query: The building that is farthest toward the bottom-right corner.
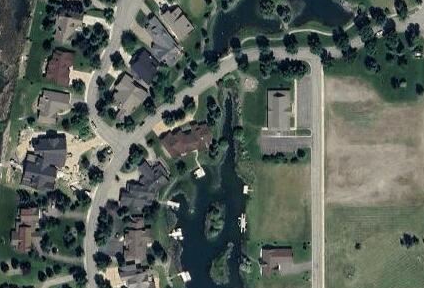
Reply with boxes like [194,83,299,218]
[261,245,292,276]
